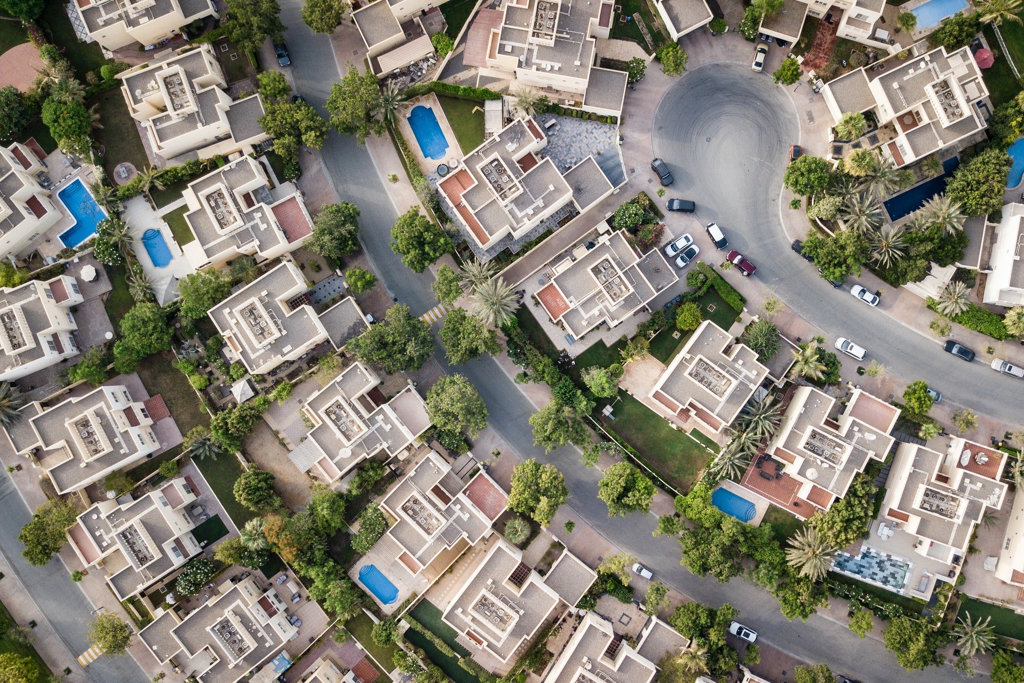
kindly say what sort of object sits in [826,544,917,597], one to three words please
swimming pool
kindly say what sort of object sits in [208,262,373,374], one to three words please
house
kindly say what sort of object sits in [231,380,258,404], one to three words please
gazebo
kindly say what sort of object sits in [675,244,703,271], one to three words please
car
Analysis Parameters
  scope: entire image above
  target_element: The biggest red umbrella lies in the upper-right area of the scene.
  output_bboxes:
[975,48,994,68]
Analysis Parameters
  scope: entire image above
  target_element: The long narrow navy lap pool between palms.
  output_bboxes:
[879,152,965,227]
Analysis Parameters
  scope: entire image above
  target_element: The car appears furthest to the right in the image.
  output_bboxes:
[989,358,1024,380]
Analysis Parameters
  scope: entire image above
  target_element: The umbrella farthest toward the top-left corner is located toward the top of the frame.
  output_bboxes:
[80,265,99,281]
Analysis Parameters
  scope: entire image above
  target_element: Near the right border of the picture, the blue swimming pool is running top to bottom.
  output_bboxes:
[1002,132,1024,194]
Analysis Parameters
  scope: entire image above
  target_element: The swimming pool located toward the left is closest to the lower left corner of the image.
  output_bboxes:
[354,560,404,610]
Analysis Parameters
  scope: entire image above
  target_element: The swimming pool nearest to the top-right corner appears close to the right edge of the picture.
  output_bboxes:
[908,0,974,34]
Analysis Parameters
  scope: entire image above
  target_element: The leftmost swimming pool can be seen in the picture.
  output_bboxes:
[48,169,118,256]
